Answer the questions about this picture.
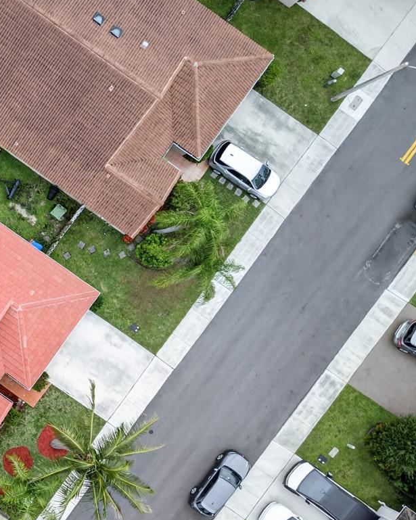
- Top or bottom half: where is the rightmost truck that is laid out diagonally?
bottom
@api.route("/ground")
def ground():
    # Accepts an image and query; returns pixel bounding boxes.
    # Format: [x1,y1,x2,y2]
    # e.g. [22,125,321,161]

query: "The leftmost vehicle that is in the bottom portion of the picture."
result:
[189,449,254,520]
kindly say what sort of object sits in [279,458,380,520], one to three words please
truck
